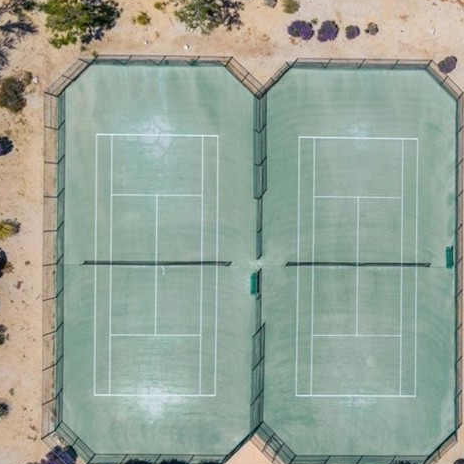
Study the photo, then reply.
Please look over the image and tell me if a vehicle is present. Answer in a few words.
No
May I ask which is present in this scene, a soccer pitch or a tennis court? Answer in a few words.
tennis court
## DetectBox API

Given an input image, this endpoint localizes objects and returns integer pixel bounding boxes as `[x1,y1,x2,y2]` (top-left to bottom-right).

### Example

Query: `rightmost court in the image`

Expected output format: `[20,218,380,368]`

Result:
[256,63,456,464]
